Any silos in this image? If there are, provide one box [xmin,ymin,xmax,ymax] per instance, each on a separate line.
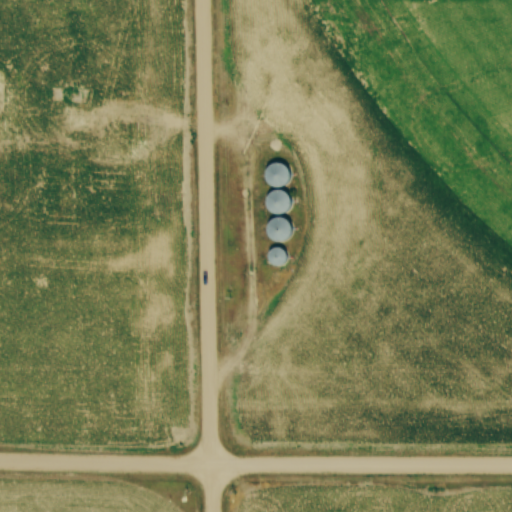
[266,189,298,216]
[267,217,299,244]
[265,162,298,189]
[268,246,296,268]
